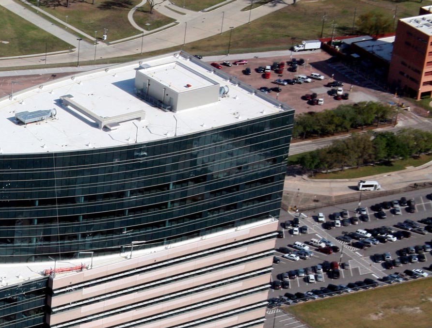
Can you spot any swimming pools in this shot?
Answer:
No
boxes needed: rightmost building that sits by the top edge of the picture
[388,5,432,99]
